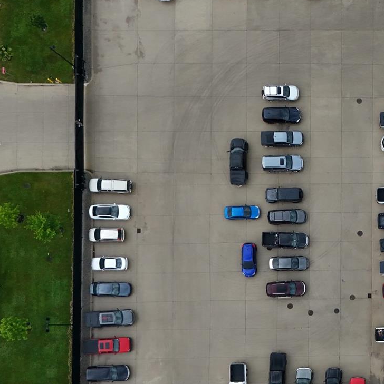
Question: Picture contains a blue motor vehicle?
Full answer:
Yes, a blue motor vehicle appears in the view.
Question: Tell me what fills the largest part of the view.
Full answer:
Most of the picture is covered by paved ground.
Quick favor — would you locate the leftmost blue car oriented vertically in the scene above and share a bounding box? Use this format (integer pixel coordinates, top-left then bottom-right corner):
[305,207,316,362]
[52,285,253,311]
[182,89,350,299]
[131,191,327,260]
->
[241,243,258,279]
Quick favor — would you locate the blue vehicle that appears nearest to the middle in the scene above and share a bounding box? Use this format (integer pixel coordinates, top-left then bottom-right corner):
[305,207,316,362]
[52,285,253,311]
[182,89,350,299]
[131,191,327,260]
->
[224,204,261,222]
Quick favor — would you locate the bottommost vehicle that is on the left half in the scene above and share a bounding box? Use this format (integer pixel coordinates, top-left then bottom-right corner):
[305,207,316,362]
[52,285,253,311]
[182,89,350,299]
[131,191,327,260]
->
[85,363,133,383]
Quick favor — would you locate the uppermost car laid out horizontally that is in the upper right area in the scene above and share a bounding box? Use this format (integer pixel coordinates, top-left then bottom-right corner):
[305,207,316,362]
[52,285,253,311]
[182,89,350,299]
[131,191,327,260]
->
[260,83,301,102]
